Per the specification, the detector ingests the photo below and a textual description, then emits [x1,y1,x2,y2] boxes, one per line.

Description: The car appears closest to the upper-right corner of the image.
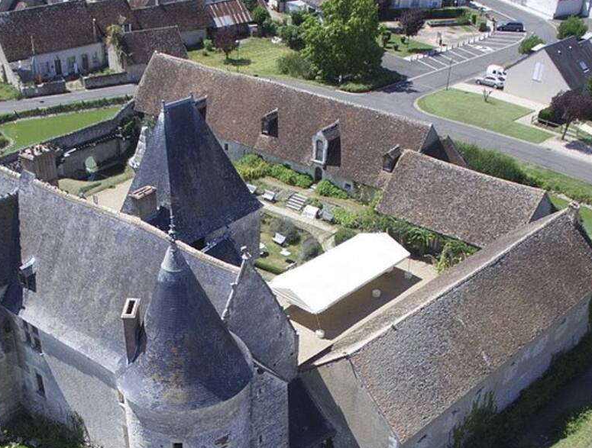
[496,18,526,32]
